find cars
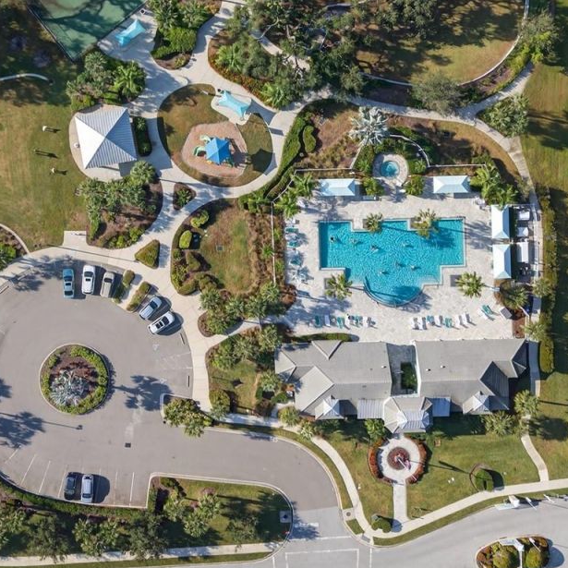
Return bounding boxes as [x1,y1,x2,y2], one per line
[80,471,95,505]
[100,268,115,299]
[80,264,96,297]
[137,294,167,322]
[147,309,178,336]
[63,469,79,501]
[61,267,75,298]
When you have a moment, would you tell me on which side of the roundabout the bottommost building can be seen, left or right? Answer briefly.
to the right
